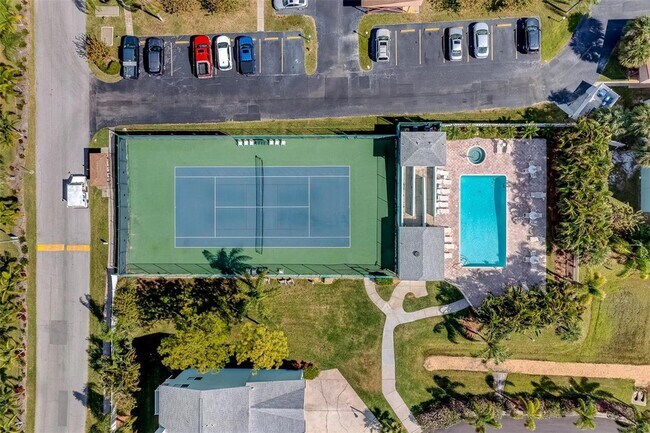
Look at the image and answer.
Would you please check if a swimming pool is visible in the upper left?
No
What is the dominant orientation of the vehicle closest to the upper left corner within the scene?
vertically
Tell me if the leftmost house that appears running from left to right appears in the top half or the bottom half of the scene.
bottom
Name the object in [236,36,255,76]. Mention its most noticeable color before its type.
blue vehicle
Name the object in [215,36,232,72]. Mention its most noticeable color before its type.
white car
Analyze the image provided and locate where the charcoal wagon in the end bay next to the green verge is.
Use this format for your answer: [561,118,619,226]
[520,19,540,55]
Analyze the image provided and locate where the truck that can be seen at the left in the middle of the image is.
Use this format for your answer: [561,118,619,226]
[64,175,88,209]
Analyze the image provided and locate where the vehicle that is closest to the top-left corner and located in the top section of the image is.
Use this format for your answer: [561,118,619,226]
[121,37,141,79]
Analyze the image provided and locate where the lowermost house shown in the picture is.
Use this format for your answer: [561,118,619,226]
[154,370,305,433]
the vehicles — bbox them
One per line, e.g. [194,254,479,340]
[520,19,540,55]
[121,37,141,79]
[145,38,164,76]
[375,30,391,63]
[273,0,310,11]
[447,28,464,62]
[236,36,255,76]
[215,36,232,72]
[472,23,490,60]
[64,175,88,209]
[194,36,213,80]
